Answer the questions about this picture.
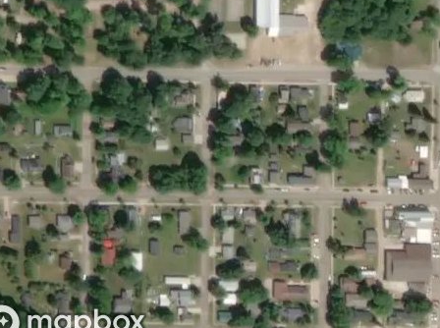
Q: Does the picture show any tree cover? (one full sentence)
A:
Yes, there is tree cover in the image.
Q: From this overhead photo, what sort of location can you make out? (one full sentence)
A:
The area seen from above is a residential area.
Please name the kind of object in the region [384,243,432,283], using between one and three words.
building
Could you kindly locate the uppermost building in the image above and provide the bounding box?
[279,13,308,37]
